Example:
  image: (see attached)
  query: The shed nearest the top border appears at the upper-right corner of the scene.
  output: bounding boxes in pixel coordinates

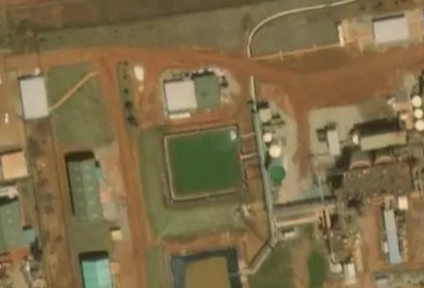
[374,17,410,44]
